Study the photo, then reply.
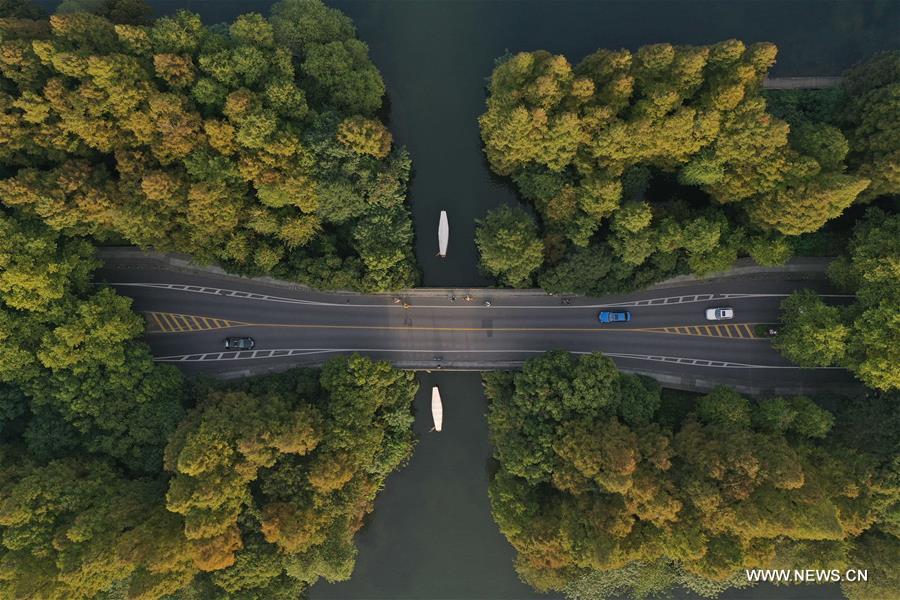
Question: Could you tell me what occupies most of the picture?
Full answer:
For the most part, this view shows trees.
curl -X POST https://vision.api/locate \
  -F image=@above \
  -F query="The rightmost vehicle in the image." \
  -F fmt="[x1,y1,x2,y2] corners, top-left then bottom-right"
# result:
[706,307,737,322]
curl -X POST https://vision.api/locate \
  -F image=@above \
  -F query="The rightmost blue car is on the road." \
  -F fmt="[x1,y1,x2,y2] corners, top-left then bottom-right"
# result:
[599,309,633,324]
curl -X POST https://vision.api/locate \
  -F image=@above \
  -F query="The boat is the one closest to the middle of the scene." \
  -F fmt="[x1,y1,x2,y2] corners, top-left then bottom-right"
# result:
[433,207,448,258]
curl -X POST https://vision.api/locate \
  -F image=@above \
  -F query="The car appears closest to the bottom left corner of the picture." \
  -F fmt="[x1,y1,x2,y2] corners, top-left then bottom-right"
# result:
[221,336,253,351]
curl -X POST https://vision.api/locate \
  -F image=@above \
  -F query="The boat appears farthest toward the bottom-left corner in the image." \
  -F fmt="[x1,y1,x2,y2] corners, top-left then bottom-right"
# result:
[428,385,442,436]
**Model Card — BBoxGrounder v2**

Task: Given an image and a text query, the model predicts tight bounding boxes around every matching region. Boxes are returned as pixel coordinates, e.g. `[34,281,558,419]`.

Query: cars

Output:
[599,309,633,324]
[706,307,737,322]
[221,336,253,351]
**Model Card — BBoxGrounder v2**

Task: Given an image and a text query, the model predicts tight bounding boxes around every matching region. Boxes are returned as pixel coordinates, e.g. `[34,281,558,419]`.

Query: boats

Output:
[428,385,442,436]
[433,207,448,258]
